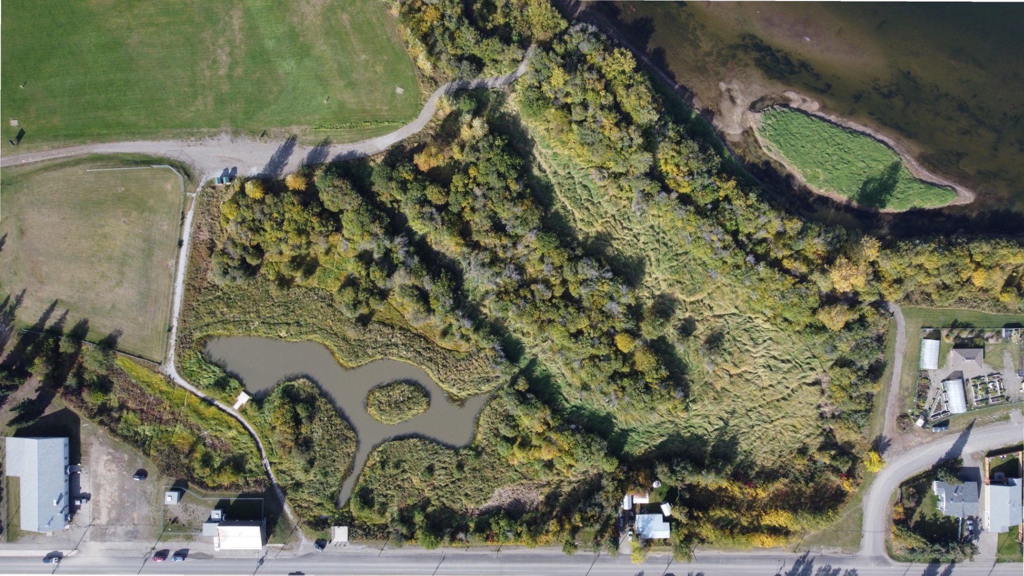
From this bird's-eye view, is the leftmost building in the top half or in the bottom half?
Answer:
bottom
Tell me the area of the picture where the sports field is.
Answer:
top left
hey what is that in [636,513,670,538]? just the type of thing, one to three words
house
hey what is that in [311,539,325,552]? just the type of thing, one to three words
vehicle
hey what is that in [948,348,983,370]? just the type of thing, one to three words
building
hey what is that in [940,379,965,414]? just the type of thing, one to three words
greenhouse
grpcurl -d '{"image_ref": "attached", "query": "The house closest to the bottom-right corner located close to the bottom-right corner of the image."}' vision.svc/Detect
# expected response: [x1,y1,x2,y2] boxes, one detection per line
[983,483,1022,534]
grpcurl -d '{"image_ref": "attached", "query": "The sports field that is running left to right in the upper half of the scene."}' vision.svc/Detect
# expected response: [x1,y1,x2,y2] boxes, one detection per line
[0,0,420,154]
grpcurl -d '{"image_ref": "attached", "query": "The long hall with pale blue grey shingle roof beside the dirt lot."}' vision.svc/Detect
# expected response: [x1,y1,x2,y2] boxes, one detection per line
[8,437,81,534]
